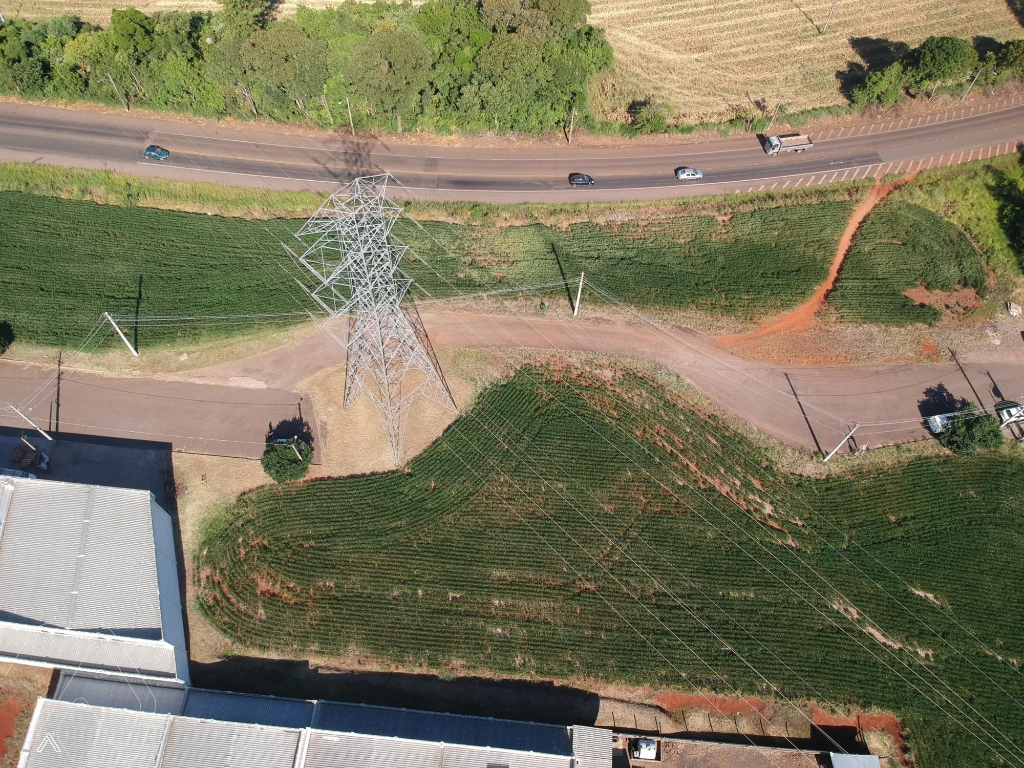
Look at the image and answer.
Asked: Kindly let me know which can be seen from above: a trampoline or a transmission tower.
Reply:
transmission tower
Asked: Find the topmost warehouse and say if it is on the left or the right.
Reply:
left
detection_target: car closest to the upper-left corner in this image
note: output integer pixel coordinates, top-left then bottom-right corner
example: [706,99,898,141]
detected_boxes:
[141,146,169,160]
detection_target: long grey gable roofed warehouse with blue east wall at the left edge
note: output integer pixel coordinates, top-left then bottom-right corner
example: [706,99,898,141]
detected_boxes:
[0,475,185,652]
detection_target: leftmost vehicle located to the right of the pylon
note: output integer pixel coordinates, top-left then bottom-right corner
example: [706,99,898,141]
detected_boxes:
[569,174,596,187]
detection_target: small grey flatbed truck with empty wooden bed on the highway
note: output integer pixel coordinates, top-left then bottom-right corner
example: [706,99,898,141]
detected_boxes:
[767,134,817,155]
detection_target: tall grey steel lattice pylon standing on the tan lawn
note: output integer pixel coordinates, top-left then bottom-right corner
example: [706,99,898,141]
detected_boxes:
[280,163,462,467]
